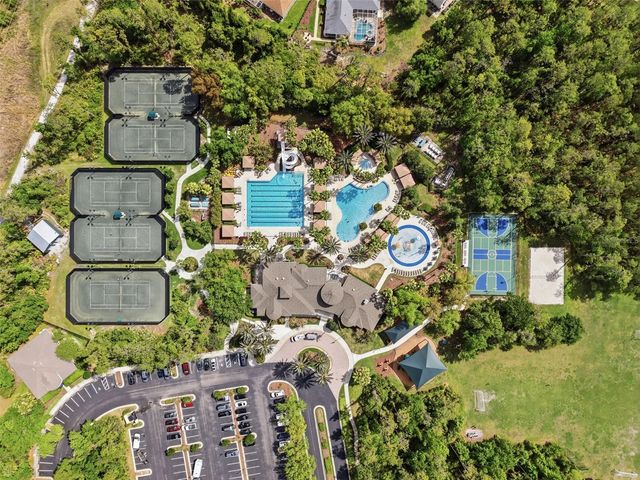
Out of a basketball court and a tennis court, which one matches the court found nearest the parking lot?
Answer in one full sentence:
Looking closely, the court found nearest the parking lot is a tennis court.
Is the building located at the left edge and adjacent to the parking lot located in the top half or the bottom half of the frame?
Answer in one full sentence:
You can find the building located at the left edge and adjacent to the parking lot in the bottom half.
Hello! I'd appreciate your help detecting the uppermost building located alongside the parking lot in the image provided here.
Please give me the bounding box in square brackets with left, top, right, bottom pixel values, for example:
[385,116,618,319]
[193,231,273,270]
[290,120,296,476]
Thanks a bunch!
[251,262,391,331]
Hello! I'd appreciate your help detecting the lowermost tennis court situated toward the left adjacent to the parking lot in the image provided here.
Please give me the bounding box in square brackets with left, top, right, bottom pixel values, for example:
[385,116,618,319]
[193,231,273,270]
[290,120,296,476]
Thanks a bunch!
[70,269,166,322]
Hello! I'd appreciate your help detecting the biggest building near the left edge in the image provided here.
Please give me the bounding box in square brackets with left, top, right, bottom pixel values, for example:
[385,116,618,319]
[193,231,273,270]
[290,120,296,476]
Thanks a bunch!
[8,329,79,399]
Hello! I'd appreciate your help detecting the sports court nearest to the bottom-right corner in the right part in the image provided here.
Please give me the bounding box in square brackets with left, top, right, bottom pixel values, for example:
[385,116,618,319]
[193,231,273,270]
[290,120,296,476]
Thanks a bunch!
[530,248,566,304]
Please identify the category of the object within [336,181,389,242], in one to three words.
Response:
swimming pool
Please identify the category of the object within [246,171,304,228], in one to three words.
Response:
swimming pool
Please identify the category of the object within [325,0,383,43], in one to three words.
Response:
house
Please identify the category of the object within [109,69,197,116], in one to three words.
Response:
tennis court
